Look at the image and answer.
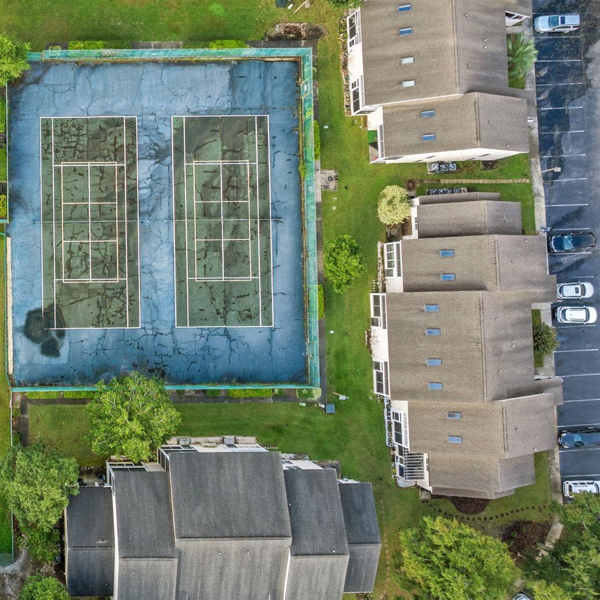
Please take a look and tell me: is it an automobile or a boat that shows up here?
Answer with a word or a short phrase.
automobile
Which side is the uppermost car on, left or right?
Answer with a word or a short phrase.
right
